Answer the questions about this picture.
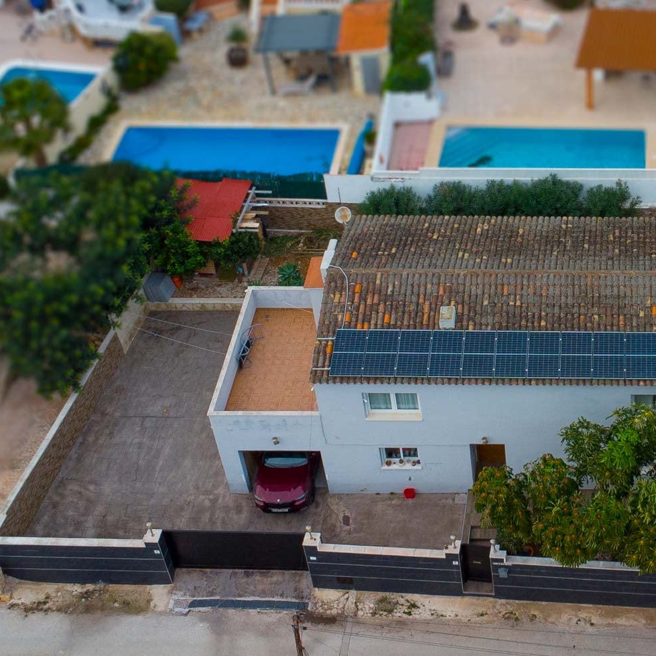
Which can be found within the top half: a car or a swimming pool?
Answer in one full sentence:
There is a swimming pool within the top half.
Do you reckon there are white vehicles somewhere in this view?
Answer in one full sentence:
No, there's no white vehicle here.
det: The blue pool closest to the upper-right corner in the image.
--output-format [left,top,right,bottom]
[427,120,656,167]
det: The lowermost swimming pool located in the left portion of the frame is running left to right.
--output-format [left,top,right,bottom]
[100,121,348,175]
